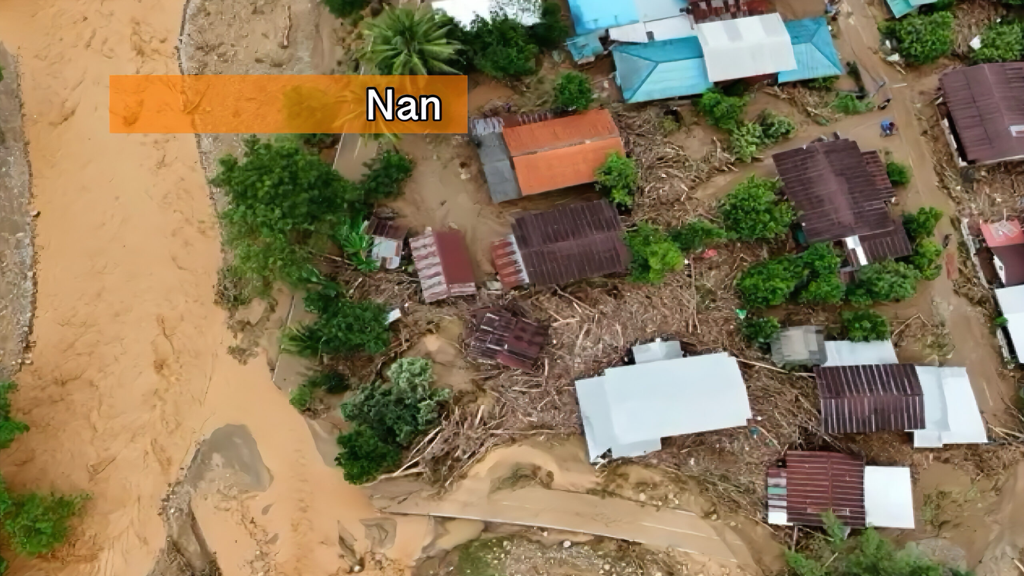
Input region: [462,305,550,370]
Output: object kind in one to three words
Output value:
house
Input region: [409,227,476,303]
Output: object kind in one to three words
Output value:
house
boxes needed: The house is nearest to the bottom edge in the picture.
[762,452,915,529]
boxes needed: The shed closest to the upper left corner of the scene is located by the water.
[362,218,407,272]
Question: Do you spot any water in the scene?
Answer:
Yes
